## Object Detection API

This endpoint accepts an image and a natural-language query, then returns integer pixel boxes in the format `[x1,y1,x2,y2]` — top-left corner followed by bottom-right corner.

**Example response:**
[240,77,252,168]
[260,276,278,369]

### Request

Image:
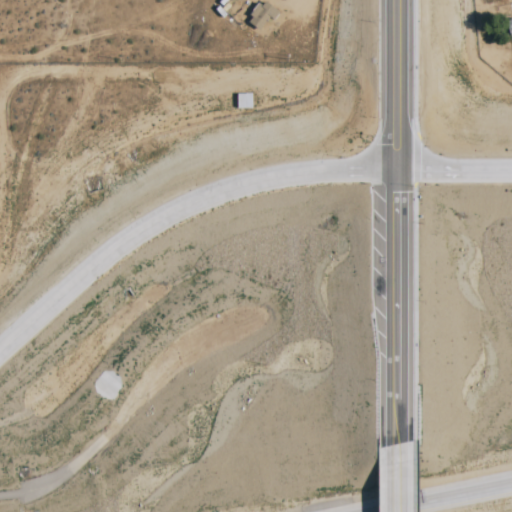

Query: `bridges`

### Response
[378,439,420,512]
